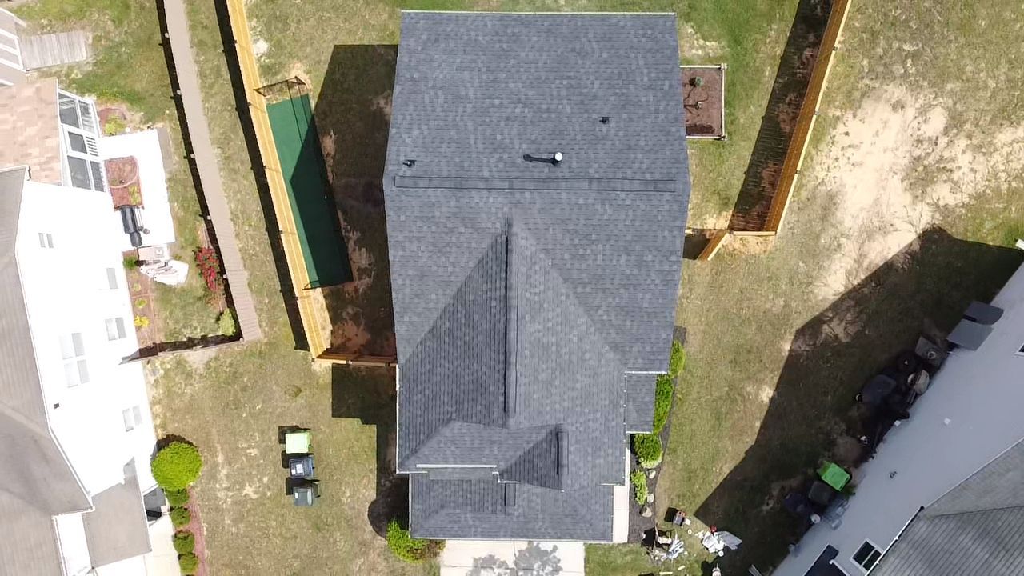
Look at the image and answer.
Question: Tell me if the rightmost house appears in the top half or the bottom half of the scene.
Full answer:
The rightmost house is in the bottom half of the image.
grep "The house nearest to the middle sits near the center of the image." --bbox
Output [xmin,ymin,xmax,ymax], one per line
[382,10,694,540]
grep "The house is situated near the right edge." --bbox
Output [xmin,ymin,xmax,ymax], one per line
[762,265,1024,576]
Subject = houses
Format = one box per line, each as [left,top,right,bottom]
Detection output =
[0,73,194,576]
[382,10,694,540]
[762,265,1024,576]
